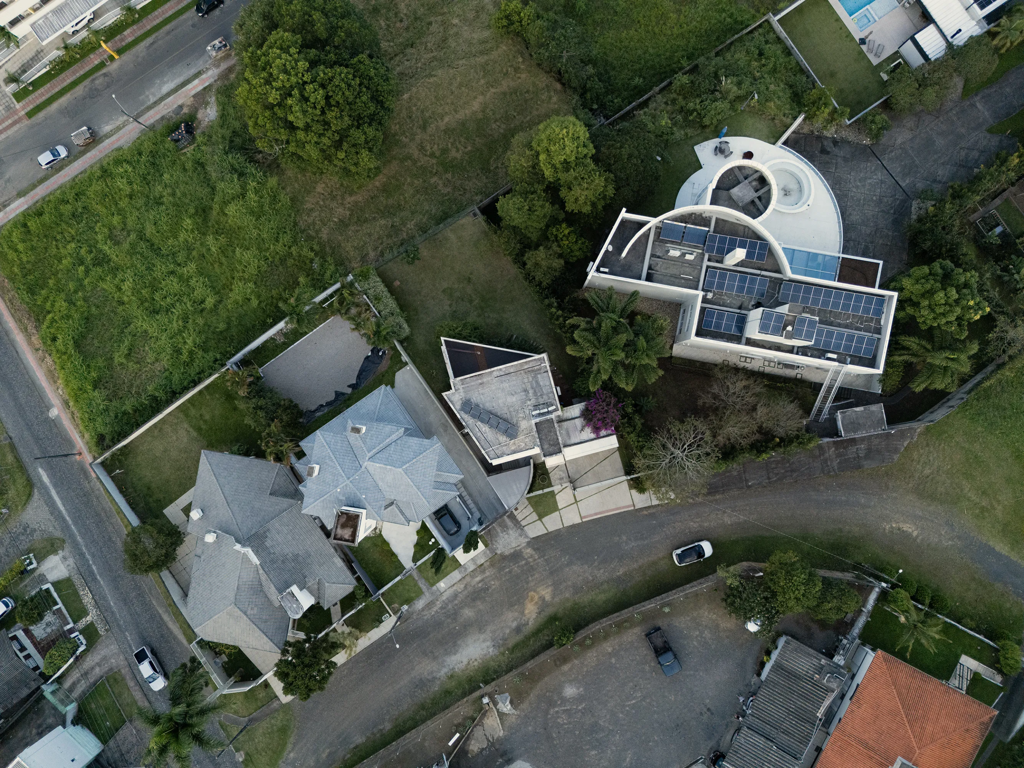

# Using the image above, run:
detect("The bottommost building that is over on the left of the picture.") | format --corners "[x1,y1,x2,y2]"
[7,724,105,768]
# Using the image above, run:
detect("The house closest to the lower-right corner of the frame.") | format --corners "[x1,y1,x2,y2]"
[801,647,999,768]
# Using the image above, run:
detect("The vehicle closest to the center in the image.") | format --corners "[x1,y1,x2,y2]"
[434,502,464,542]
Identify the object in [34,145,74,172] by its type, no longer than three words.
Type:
car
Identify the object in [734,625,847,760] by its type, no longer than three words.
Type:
shed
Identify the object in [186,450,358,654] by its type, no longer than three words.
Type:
house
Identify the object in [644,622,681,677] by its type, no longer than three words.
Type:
truck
